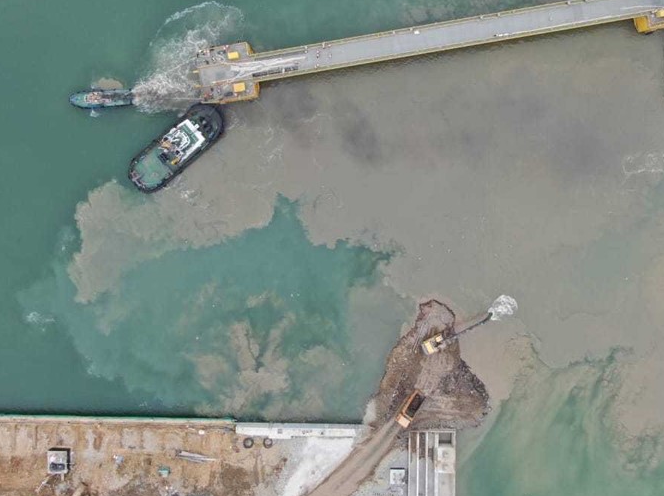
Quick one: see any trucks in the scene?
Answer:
Yes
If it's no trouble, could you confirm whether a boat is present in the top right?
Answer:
No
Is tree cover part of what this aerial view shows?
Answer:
No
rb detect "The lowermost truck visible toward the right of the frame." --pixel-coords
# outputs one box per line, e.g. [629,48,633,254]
[396,390,429,430]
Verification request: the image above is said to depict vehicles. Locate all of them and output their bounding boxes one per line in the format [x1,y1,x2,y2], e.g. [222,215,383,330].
[418,308,499,358]
[396,390,429,430]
